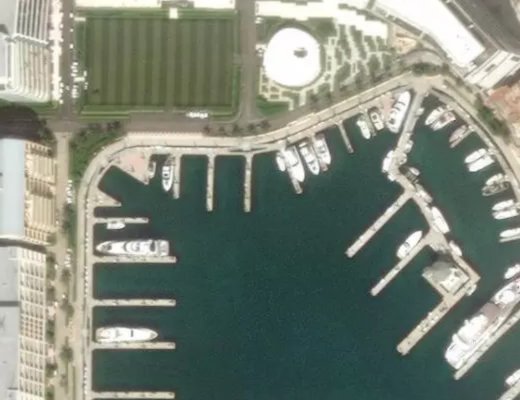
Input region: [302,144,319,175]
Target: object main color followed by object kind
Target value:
white boat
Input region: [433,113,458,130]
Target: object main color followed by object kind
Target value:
white boat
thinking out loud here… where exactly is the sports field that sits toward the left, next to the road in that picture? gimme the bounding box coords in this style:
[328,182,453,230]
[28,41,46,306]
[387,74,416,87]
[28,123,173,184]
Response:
[79,9,239,121]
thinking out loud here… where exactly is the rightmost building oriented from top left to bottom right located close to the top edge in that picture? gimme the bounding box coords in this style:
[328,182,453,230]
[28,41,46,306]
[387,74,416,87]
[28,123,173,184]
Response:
[373,0,489,69]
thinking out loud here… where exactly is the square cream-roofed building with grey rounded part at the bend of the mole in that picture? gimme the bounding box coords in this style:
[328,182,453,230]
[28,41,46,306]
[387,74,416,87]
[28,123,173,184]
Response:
[419,258,474,299]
